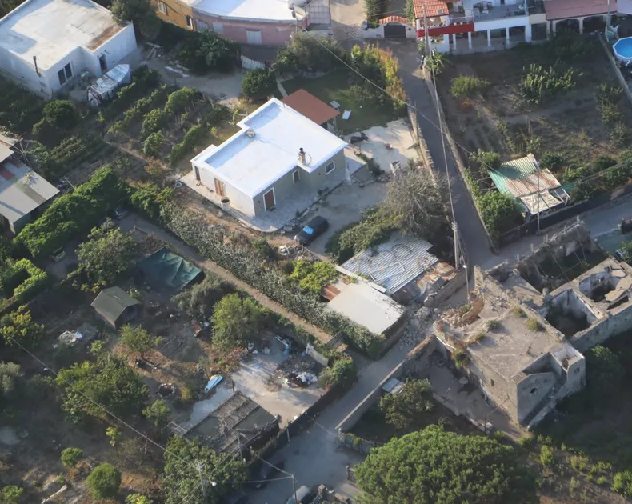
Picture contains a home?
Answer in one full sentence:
Yes, there is a home in the image.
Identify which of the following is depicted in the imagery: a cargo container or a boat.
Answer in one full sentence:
Visible in the photo is a boat.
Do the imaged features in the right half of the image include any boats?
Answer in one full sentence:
No, I see no boat in the right half of the image.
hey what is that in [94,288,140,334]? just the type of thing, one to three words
shed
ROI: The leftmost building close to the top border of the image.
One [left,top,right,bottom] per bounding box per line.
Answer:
[0,0,136,99]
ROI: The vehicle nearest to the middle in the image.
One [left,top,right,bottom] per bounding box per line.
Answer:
[295,216,328,246]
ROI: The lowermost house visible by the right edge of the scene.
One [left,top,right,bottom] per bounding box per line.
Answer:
[436,213,632,430]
